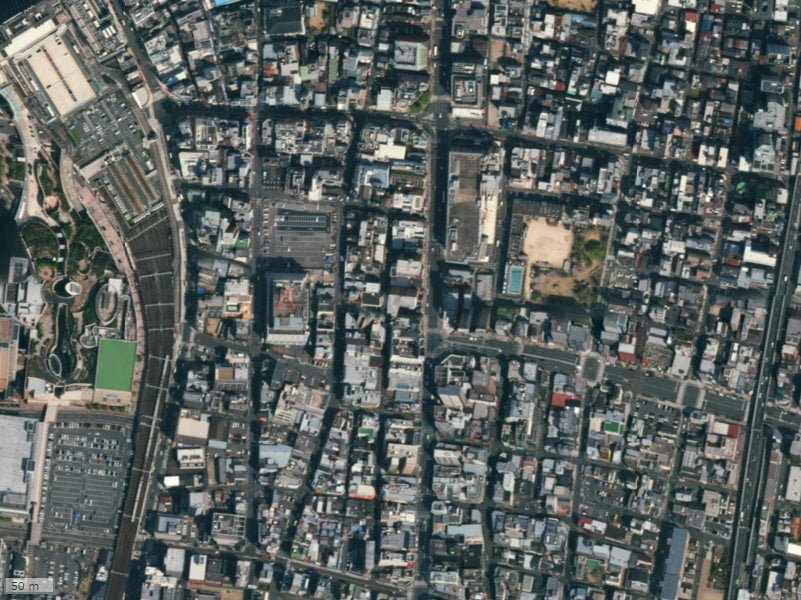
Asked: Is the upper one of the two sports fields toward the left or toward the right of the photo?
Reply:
right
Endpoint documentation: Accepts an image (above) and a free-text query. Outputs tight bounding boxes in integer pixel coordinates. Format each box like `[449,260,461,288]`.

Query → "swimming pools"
[504,262,527,298]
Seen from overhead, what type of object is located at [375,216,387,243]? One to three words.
building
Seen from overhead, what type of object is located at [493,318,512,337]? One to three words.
house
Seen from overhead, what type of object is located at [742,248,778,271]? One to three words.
building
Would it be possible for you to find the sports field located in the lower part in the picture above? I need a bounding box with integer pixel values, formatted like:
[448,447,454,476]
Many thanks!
[95,337,138,393]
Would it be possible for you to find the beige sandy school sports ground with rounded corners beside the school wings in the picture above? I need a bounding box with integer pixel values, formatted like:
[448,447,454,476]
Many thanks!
[524,219,574,267]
